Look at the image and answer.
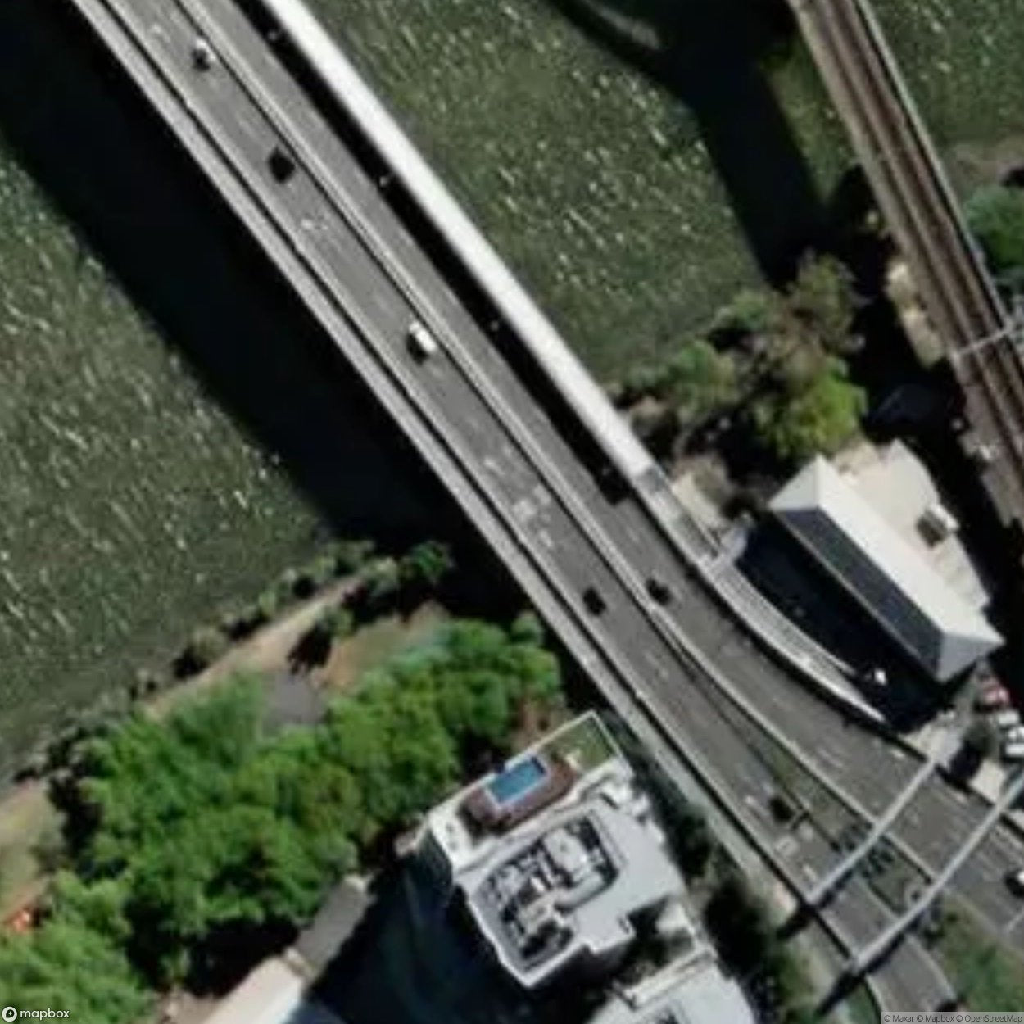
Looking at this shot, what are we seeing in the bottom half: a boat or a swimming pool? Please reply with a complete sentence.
The feature located in the bottom half is a swimming pool.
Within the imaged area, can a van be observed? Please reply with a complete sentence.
Yes, you can see a van in this photo.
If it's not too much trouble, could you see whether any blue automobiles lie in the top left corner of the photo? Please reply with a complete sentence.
No, no blue automobile is visible in the top left corner of the photo.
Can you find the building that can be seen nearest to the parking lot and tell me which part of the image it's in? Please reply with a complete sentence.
The building that can be seen nearest to the parking lot is in the right part of the image.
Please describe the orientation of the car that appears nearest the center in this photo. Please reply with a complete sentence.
From this overhead view, the car that appears nearest the center appears to run at an angle.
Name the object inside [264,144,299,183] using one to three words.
car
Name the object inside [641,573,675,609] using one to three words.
car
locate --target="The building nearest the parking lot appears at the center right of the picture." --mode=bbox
[767,441,1005,686]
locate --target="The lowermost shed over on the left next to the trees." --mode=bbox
[201,945,320,1024]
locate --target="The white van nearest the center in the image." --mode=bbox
[406,319,442,359]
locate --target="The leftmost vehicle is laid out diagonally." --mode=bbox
[187,35,220,71]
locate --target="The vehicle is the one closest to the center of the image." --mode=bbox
[577,581,612,620]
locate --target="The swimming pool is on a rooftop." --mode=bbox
[484,756,549,808]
